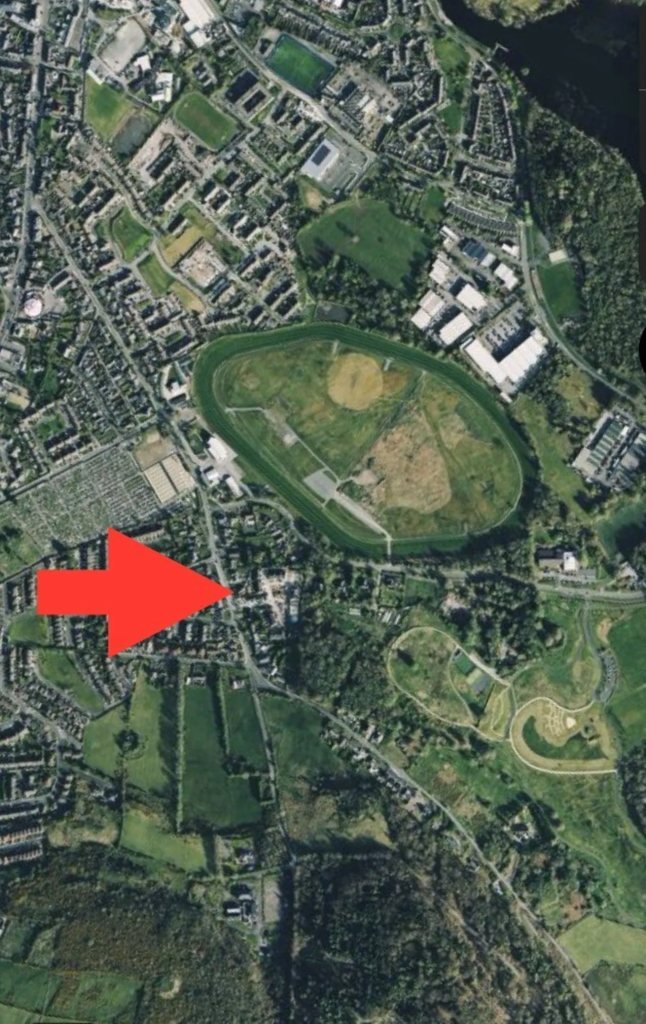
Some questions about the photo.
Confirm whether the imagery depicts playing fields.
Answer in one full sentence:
Yes, a playing field appears in the view.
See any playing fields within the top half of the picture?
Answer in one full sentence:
Yes, a playing field can be seen within the top half of the picture.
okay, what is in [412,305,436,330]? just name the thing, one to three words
building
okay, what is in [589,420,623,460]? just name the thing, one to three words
house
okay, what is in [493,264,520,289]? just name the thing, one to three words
building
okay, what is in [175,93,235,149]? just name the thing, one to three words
sports field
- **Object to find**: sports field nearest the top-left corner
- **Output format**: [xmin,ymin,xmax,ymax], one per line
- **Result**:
[85,74,129,141]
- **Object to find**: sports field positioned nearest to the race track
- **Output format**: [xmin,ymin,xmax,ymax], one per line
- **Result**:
[539,261,581,319]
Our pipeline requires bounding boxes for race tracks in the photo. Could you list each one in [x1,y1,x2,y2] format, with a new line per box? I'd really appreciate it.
[194,322,528,559]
